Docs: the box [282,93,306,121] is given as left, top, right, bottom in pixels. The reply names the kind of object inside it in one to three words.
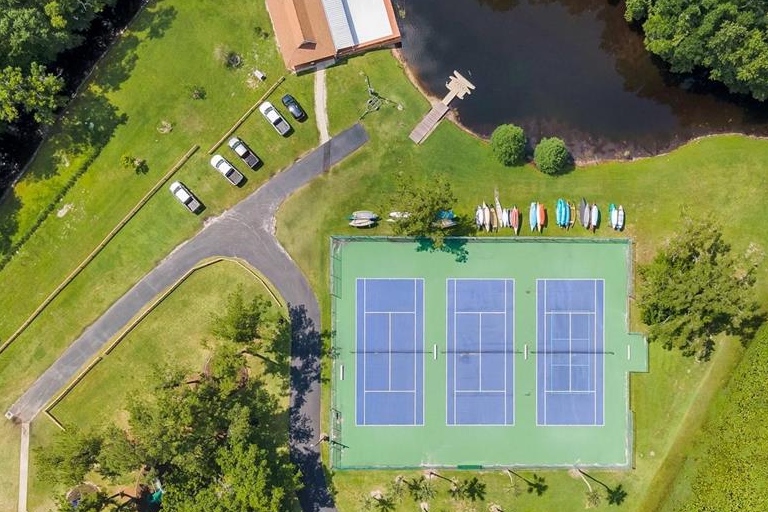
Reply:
car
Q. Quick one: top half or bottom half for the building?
top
